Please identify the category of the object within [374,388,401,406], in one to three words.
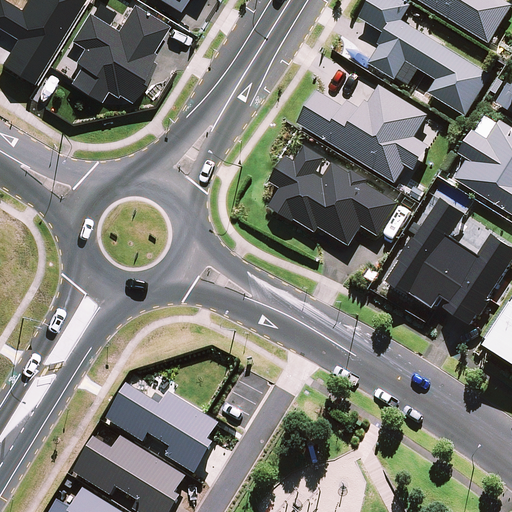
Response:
vehicle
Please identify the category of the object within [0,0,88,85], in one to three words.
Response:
house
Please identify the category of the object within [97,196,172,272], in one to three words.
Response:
roundabout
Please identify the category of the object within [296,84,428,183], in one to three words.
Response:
house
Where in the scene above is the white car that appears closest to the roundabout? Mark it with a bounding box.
[80,218,94,240]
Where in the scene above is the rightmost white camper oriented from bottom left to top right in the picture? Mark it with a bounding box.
[384,204,411,242]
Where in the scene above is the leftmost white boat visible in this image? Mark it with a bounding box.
[42,74,60,106]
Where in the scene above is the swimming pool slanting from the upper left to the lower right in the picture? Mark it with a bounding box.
[435,176,474,210]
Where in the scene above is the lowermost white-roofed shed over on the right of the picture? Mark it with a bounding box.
[482,300,512,364]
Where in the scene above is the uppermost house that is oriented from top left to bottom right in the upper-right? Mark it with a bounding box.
[358,0,484,114]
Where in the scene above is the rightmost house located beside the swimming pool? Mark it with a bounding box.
[454,112,512,220]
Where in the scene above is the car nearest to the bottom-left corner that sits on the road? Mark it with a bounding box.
[24,353,41,378]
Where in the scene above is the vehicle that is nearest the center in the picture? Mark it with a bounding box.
[199,160,214,184]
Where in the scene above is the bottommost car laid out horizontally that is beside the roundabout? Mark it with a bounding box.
[124,280,149,292]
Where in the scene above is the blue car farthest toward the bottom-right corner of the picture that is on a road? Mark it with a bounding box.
[410,372,432,389]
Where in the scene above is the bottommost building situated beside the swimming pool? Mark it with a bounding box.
[386,198,512,321]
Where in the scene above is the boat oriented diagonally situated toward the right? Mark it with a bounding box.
[343,44,370,67]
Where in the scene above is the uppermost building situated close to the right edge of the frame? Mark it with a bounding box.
[416,0,511,43]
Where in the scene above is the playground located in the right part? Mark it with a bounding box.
[270,450,367,512]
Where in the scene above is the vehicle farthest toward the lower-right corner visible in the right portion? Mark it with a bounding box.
[405,406,424,422]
